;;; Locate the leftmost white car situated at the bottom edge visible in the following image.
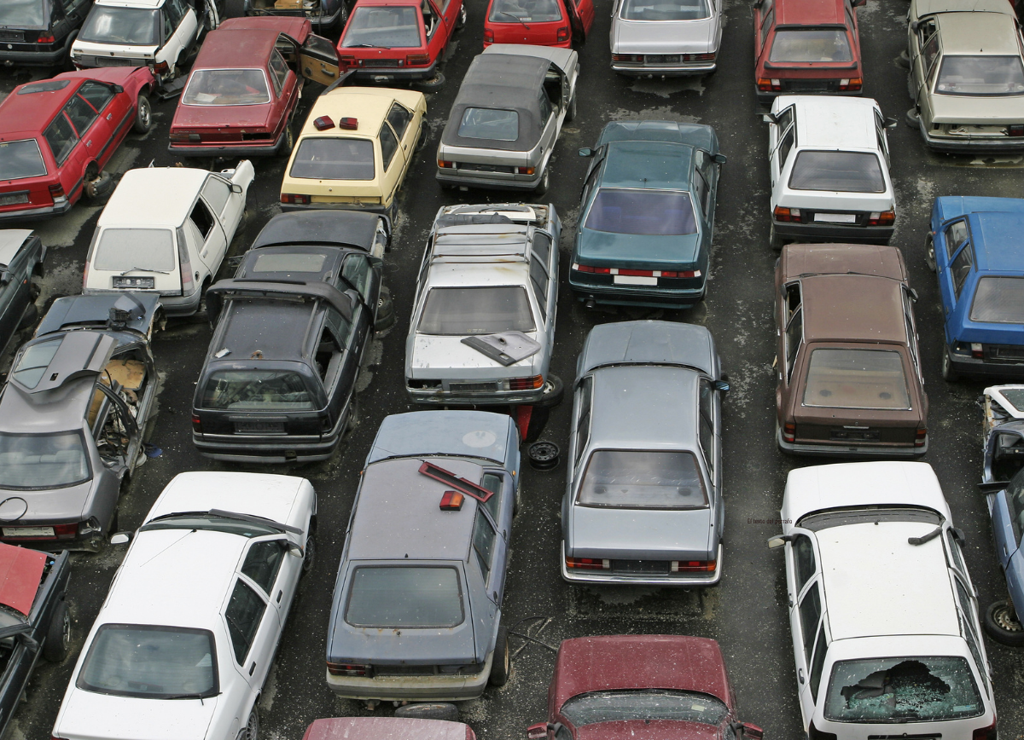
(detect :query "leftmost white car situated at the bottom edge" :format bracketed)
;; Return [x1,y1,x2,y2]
[50,470,309,740]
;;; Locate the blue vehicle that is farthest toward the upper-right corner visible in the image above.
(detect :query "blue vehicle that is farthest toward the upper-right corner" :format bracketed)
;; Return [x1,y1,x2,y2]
[934,193,1024,385]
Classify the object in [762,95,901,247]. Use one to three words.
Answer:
car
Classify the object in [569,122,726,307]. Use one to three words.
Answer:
car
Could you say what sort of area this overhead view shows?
parking lot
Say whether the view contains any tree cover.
No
